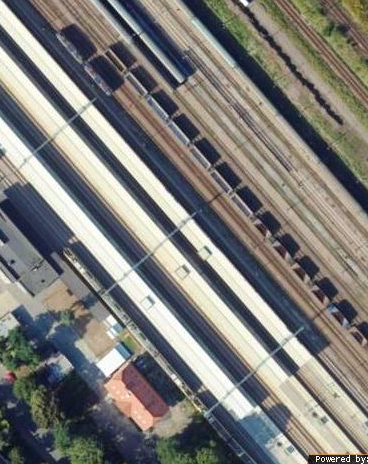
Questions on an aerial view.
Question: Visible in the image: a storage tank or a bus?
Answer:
bus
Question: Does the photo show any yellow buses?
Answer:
No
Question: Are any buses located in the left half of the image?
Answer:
Yes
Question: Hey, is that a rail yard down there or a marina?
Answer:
rail yard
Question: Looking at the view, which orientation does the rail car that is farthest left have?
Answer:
on a diagonal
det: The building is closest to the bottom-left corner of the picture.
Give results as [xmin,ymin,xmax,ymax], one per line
[42,354,75,379]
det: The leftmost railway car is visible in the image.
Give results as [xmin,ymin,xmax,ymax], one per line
[61,35,89,66]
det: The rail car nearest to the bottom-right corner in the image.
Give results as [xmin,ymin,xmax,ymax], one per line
[350,326,368,349]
